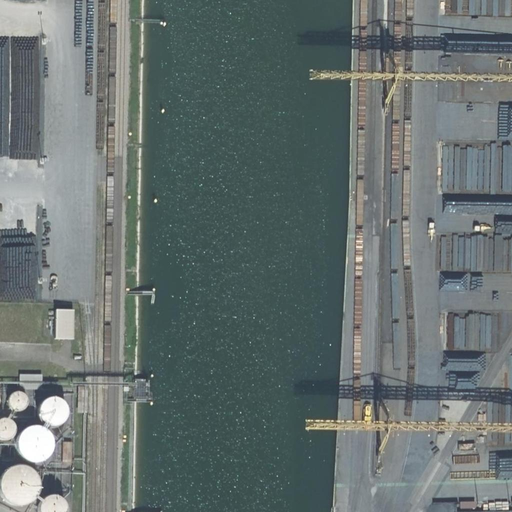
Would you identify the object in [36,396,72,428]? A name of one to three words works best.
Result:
storage tank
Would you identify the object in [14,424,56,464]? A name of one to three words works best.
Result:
storage tank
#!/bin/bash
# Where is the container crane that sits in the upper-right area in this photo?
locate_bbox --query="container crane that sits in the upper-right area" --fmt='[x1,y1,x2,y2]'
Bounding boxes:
[309,37,512,118]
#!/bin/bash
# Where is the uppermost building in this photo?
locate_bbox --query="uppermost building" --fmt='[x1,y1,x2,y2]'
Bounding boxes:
[54,309,75,339]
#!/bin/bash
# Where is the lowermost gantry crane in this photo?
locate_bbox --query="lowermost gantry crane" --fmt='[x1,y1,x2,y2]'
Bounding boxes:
[304,385,512,476]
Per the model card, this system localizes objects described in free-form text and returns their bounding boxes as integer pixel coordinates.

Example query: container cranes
[304,385,512,476]
[309,37,512,118]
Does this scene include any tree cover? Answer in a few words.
No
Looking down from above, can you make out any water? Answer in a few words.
Yes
